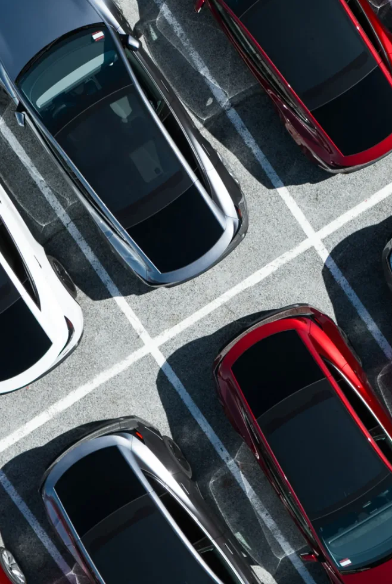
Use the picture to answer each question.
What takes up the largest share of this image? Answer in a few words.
paved ground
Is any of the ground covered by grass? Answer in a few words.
No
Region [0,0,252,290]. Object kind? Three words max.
car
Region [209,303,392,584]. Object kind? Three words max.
car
